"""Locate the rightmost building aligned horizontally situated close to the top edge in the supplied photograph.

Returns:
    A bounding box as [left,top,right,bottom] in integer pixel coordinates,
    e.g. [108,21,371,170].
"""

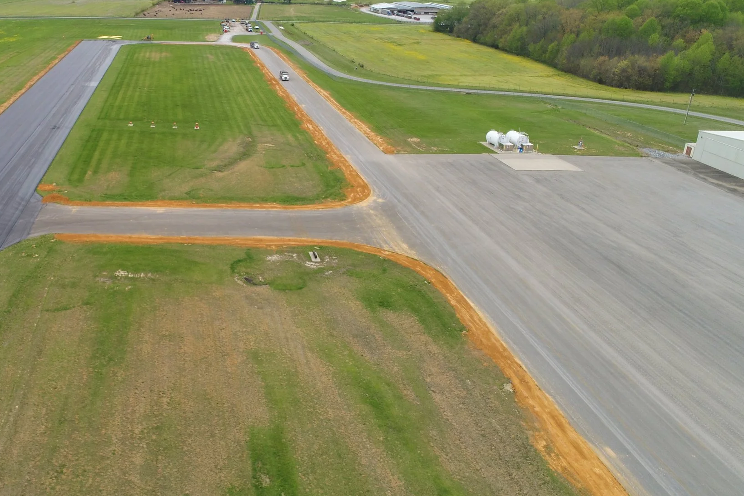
[373,0,439,16]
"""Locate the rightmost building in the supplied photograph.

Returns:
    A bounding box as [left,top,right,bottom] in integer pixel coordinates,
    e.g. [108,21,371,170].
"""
[689,125,744,179]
